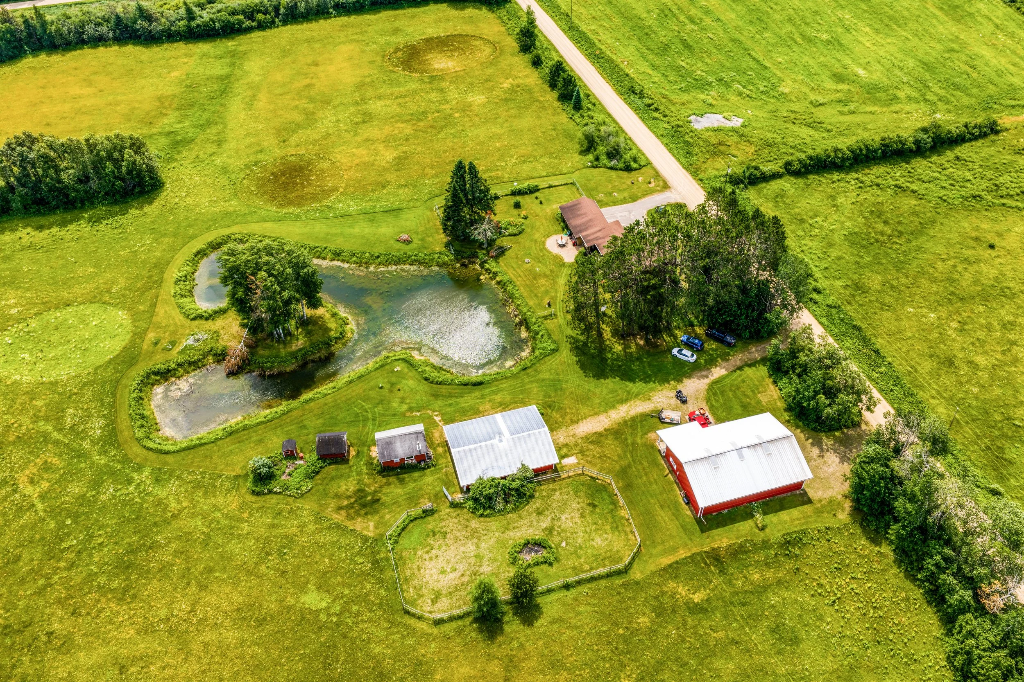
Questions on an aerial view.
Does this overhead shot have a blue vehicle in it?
Yes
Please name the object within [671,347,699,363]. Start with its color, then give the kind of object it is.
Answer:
white car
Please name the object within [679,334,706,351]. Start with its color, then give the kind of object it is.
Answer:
blue car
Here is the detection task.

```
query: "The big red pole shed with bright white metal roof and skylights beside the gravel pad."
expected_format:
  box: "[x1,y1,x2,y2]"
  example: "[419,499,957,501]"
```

[652,413,812,525]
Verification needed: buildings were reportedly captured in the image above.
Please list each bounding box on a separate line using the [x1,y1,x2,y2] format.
[652,413,812,525]
[439,405,559,493]
[282,438,297,458]
[558,196,627,254]
[316,432,349,461]
[374,424,429,468]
